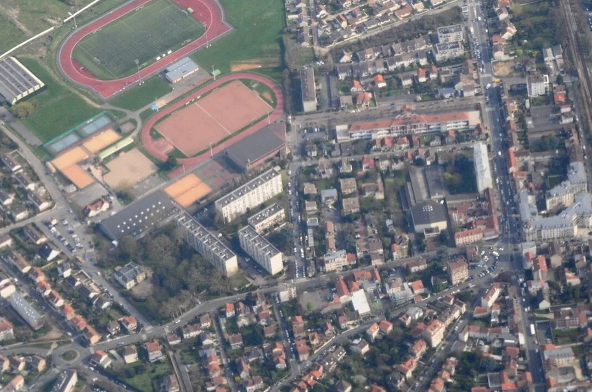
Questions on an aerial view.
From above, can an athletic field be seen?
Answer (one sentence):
Yes, I can see an athletic field in this picture.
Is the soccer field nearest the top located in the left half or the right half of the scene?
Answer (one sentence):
The soccer field nearest the top is on the left side of the image.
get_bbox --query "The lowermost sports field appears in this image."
[104,147,158,188]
